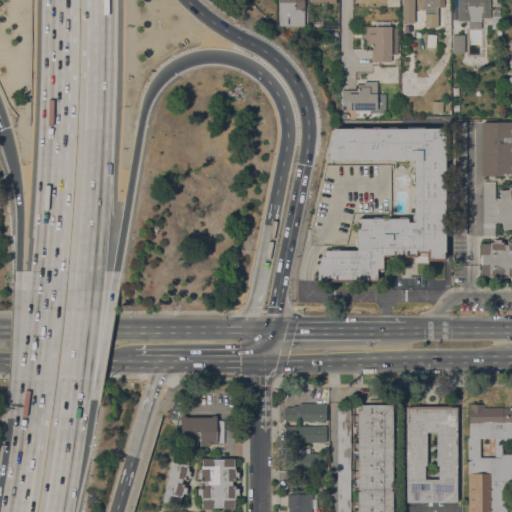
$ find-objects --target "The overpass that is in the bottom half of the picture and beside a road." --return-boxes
[6,272,122,418]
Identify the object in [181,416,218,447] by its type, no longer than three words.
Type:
house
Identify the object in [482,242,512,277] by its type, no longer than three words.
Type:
building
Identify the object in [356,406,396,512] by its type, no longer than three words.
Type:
building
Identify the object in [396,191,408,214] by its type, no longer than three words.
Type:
swimming pool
